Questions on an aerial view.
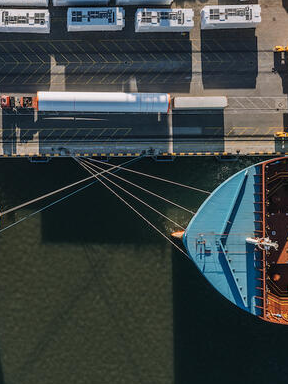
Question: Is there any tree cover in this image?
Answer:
No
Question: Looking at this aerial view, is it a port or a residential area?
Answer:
port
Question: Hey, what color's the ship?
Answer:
blue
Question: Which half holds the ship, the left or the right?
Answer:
right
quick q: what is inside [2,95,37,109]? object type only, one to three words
vehicle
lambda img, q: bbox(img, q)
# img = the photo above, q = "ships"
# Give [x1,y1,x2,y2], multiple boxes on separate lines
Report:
[171,157,288,325]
